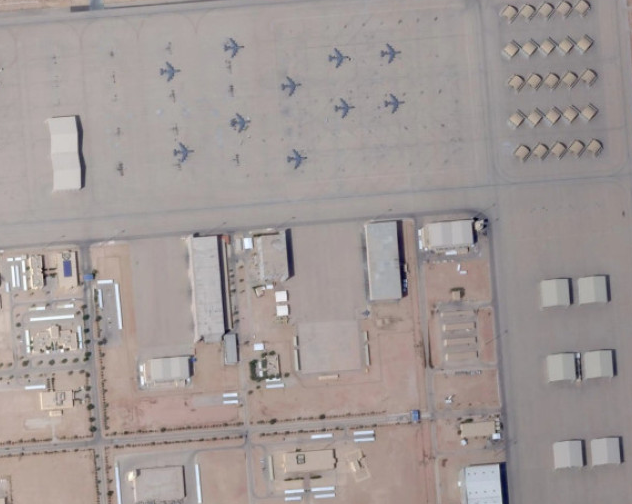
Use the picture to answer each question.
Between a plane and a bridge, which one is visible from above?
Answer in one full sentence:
I can see a plane in this picture.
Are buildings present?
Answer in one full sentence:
Yes, a building is visible in the scene.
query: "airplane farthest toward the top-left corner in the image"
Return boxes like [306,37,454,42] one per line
[159,62,180,81]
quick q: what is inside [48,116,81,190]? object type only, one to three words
hangar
